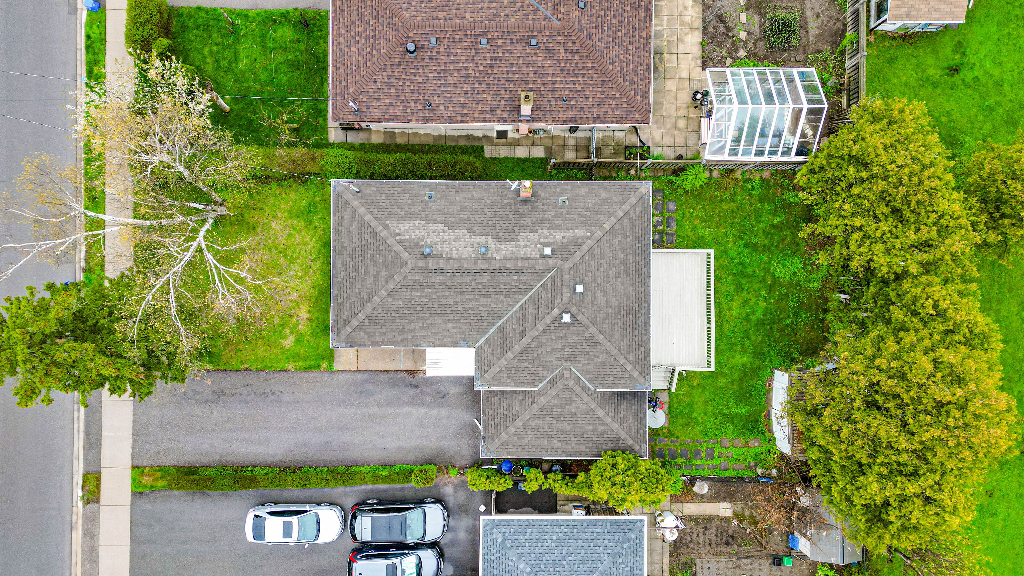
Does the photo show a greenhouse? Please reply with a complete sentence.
Yes, the frame does contain a greenhouse.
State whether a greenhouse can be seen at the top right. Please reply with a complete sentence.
Yes, you'll find a greenhouse at the top right.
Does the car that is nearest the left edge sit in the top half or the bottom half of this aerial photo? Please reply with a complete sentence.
Seen from above, the car that is nearest the left edge lies in the bottom half of the view.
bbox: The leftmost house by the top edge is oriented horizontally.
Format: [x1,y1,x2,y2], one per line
[331,0,653,130]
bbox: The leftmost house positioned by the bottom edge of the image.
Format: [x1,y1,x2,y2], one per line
[481,506,648,576]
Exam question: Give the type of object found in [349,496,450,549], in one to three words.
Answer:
car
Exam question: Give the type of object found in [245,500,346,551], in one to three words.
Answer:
car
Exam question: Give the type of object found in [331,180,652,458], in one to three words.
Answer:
house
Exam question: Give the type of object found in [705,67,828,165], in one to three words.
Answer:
greenhouse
